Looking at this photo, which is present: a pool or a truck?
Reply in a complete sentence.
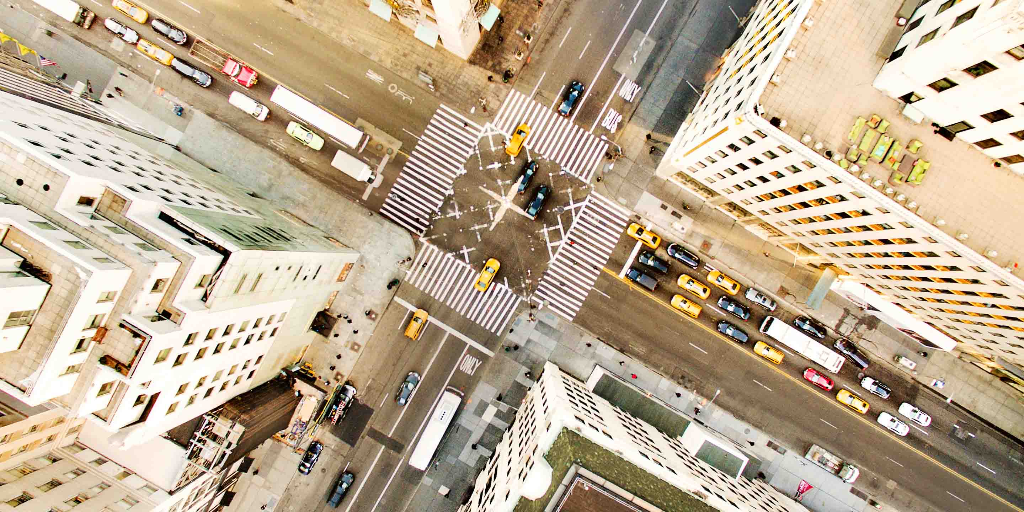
The image shows a truck.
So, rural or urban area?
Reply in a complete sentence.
The land in this view is best described as urban.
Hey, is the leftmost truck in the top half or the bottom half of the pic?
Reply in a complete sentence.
The top half of the photo is where the leftmost truck is.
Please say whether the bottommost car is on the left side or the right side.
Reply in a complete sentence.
It is on the left.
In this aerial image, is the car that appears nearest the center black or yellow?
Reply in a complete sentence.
The car that appears nearest the center looks yellow in the image.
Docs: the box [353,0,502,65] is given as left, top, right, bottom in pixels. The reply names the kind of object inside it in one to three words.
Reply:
building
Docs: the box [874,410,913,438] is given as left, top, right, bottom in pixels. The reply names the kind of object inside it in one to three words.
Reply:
car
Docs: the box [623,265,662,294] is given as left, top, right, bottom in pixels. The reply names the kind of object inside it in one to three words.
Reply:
van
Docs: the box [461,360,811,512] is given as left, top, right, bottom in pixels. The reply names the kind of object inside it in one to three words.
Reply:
building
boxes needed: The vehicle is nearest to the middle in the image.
[474,256,501,294]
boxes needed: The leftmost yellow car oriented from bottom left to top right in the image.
[402,306,431,343]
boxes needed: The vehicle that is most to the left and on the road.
[35,0,105,35]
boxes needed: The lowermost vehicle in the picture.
[327,471,354,508]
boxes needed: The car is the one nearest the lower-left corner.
[297,440,325,478]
